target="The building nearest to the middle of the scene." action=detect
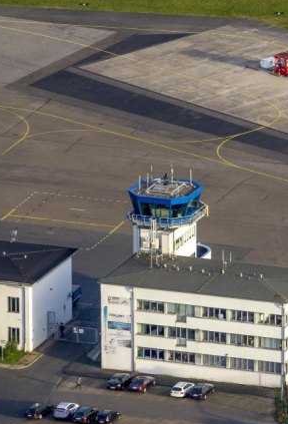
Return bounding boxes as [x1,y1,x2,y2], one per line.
[124,165,213,259]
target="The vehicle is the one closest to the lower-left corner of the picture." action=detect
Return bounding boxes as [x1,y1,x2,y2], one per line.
[27,402,56,419]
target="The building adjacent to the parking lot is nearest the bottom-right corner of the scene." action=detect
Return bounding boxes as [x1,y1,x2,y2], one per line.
[98,251,288,387]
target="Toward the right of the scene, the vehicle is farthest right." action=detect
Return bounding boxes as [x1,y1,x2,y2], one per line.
[192,382,220,399]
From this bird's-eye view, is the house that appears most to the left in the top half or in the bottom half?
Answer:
bottom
